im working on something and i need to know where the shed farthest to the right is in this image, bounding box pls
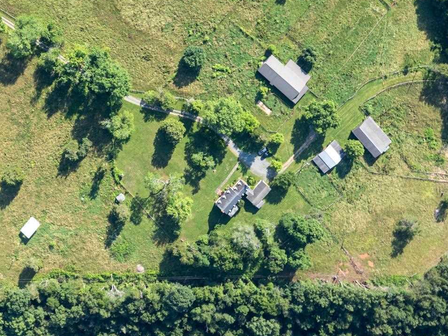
[350,116,392,158]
